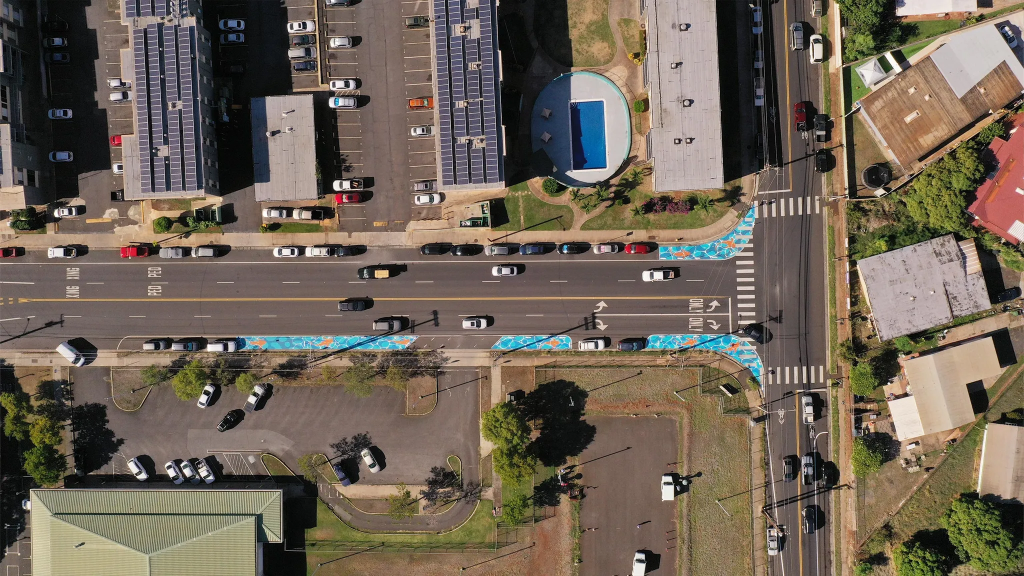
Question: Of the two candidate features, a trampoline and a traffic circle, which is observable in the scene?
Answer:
trampoline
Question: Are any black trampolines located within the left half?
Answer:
No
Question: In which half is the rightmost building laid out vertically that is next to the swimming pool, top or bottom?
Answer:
top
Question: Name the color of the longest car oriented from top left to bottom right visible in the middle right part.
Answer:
black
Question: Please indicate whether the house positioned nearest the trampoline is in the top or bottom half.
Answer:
top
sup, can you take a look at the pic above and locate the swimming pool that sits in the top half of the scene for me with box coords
[531,70,632,188]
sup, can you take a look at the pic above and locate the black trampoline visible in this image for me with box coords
[860,163,894,190]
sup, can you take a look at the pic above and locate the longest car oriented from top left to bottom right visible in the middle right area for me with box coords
[740,323,765,343]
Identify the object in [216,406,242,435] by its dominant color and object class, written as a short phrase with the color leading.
black truck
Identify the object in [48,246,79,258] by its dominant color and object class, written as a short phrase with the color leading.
white vehicle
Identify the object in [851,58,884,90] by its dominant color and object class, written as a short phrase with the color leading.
white gazebo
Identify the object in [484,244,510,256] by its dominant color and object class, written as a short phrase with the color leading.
gray vehicle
